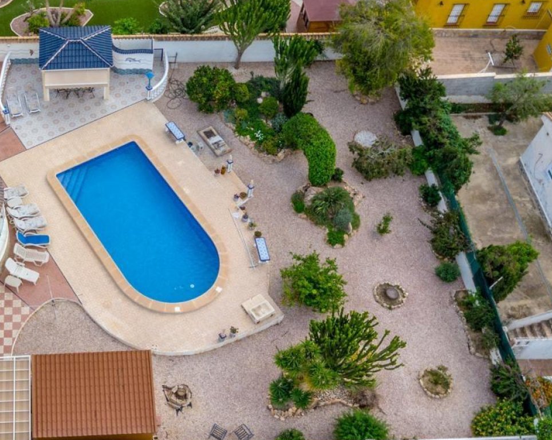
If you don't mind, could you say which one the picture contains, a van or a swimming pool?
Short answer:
swimming pool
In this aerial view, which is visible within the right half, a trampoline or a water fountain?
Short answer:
water fountain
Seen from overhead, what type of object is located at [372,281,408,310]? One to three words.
fountain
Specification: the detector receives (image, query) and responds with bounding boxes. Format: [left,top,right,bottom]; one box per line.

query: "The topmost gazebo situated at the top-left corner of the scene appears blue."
[38,24,116,100]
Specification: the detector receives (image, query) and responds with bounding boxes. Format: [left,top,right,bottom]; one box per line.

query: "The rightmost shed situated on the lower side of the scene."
[31,343,158,440]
